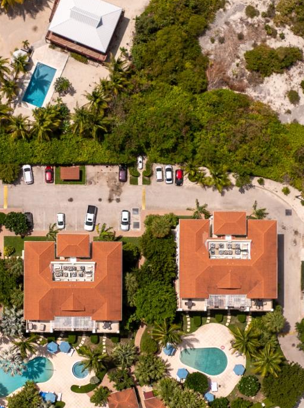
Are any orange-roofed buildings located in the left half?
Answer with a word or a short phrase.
Yes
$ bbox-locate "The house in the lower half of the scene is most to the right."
[176,212,277,311]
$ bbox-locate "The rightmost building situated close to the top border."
[45,0,121,60]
